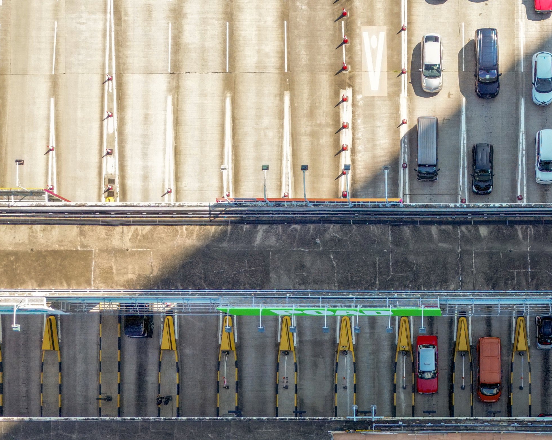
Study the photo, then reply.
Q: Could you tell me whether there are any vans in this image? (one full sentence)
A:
Yes, the photo shows a van.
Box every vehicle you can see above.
[531,53,552,105]
[474,32,501,96]
[475,339,503,402]
[419,35,445,93]
[126,309,154,340]
[471,141,495,197]
[415,119,440,180]
[534,316,552,351]
[533,0,552,16]
[534,131,552,183]
[414,336,440,394]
